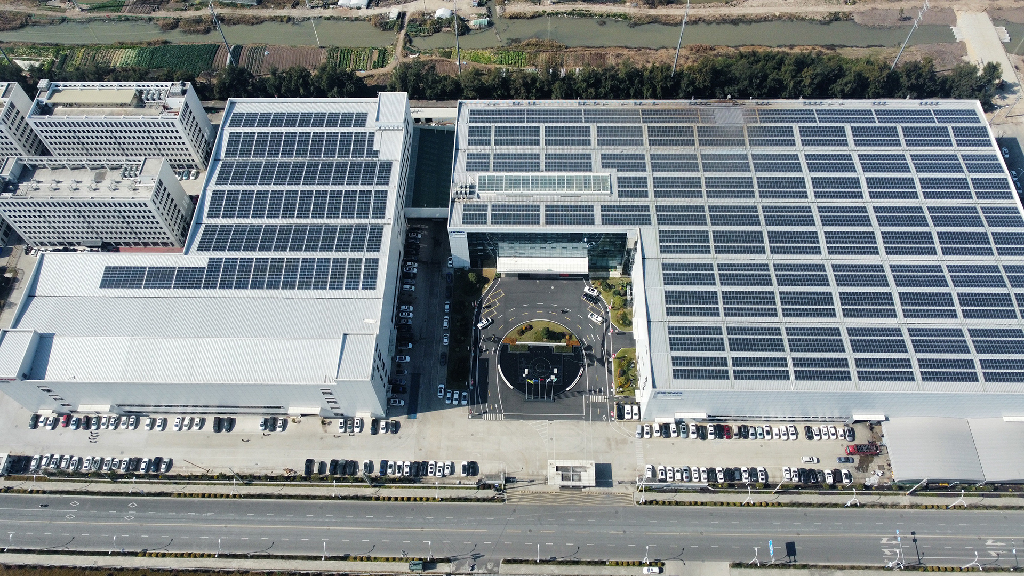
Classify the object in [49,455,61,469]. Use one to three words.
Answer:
vehicle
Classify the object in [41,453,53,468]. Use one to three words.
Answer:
vehicle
